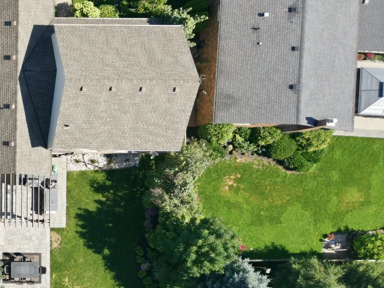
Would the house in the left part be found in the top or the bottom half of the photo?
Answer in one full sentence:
You can find the house in the left part in the top half.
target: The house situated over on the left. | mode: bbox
[0,0,201,176]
